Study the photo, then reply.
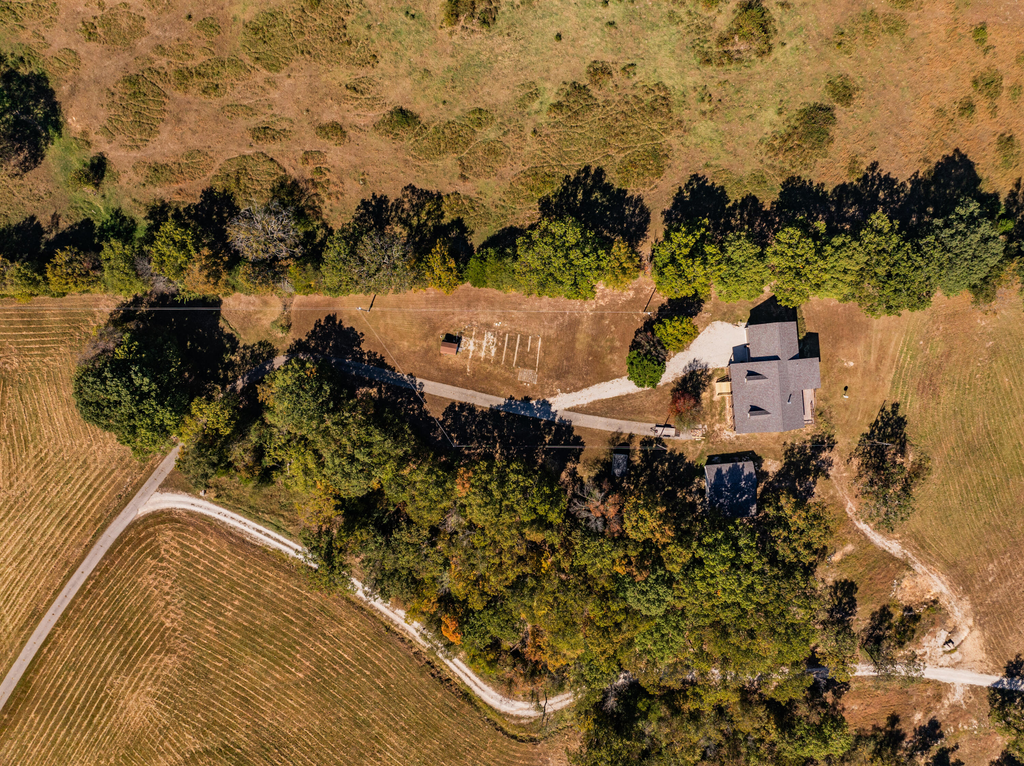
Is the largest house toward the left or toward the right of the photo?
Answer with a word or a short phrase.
right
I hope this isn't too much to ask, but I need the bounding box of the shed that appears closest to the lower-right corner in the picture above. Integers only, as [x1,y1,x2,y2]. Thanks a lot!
[702,462,757,519]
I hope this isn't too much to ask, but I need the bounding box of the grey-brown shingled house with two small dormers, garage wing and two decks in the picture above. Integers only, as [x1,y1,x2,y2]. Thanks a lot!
[715,322,821,434]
